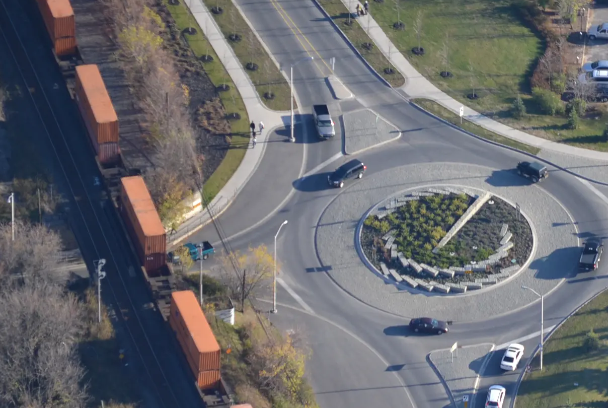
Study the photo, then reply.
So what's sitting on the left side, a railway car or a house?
railway car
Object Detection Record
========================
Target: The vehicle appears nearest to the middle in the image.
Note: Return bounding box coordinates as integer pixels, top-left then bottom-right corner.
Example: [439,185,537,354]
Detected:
[326,156,368,186]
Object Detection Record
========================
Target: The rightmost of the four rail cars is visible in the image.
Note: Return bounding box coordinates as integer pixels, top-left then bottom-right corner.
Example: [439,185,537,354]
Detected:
[163,295,229,408]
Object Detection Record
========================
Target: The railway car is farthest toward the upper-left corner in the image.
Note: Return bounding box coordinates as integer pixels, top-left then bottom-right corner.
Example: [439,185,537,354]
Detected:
[32,0,82,85]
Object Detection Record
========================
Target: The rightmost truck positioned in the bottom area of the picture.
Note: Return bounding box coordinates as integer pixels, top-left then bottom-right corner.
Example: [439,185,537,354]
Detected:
[580,235,603,269]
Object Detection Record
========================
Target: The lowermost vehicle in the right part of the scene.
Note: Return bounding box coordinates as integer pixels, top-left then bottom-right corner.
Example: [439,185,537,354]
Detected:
[485,381,507,408]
